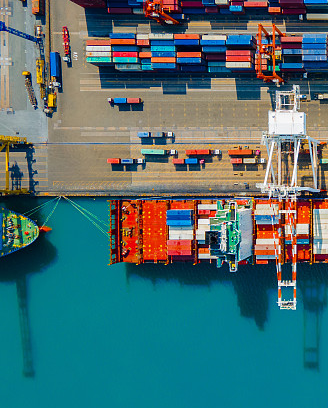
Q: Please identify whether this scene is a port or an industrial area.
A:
port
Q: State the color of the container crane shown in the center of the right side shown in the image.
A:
white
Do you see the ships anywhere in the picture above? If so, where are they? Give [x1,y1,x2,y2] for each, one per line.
[0,206,52,257]
[109,196,328,274]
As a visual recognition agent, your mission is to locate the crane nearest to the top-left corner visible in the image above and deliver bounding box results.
[0,27,45,84]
